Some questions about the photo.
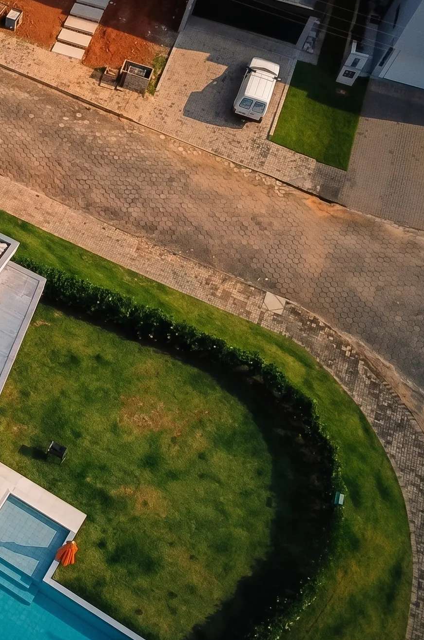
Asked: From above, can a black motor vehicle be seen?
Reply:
No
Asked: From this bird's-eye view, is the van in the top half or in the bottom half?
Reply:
top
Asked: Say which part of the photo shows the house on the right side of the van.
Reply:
top right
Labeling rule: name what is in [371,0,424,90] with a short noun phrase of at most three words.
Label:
house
